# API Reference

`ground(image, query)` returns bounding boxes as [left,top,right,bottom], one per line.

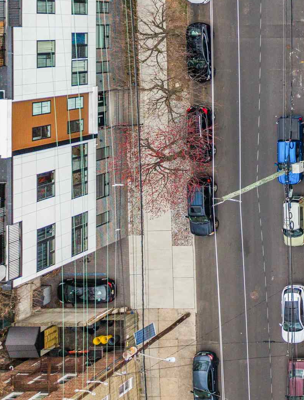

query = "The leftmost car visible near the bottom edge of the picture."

[190,349,223,400]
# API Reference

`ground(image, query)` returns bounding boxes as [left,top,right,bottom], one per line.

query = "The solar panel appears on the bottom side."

[134,323,156,341]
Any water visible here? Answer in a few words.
No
